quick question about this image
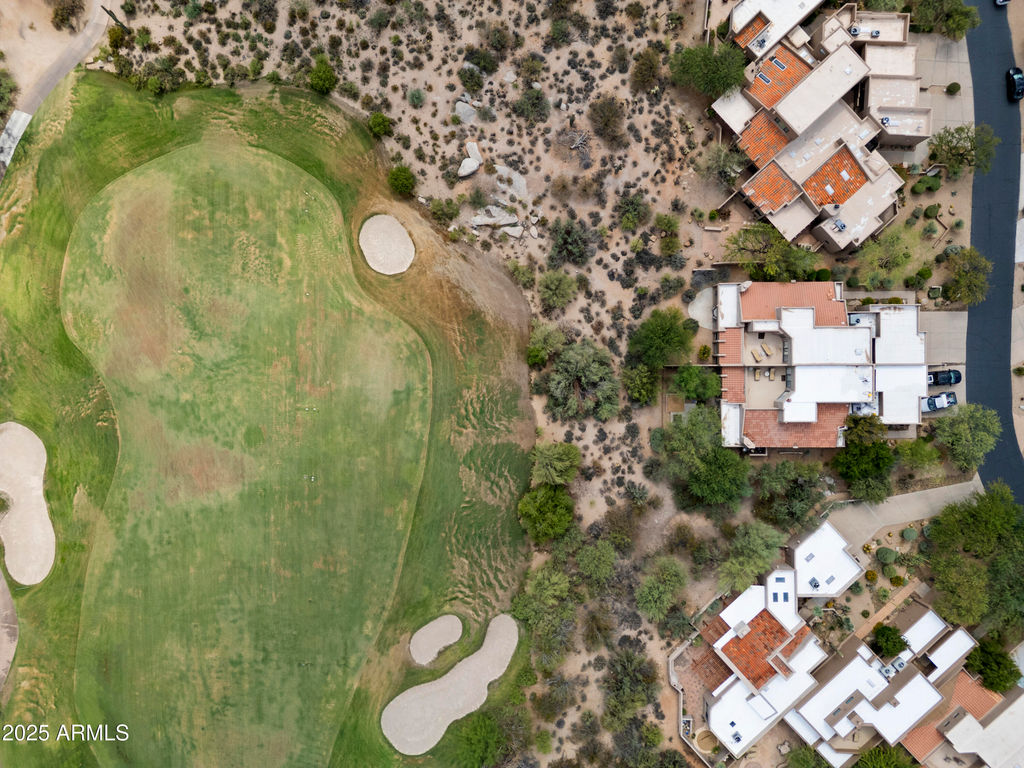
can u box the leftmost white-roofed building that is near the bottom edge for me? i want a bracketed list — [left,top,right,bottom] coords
[688,515,865,759]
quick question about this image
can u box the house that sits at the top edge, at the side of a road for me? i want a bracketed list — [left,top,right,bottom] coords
[706,0,932,255]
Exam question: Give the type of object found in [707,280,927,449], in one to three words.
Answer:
house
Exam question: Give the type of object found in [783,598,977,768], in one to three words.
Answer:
house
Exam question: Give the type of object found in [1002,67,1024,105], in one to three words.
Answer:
car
